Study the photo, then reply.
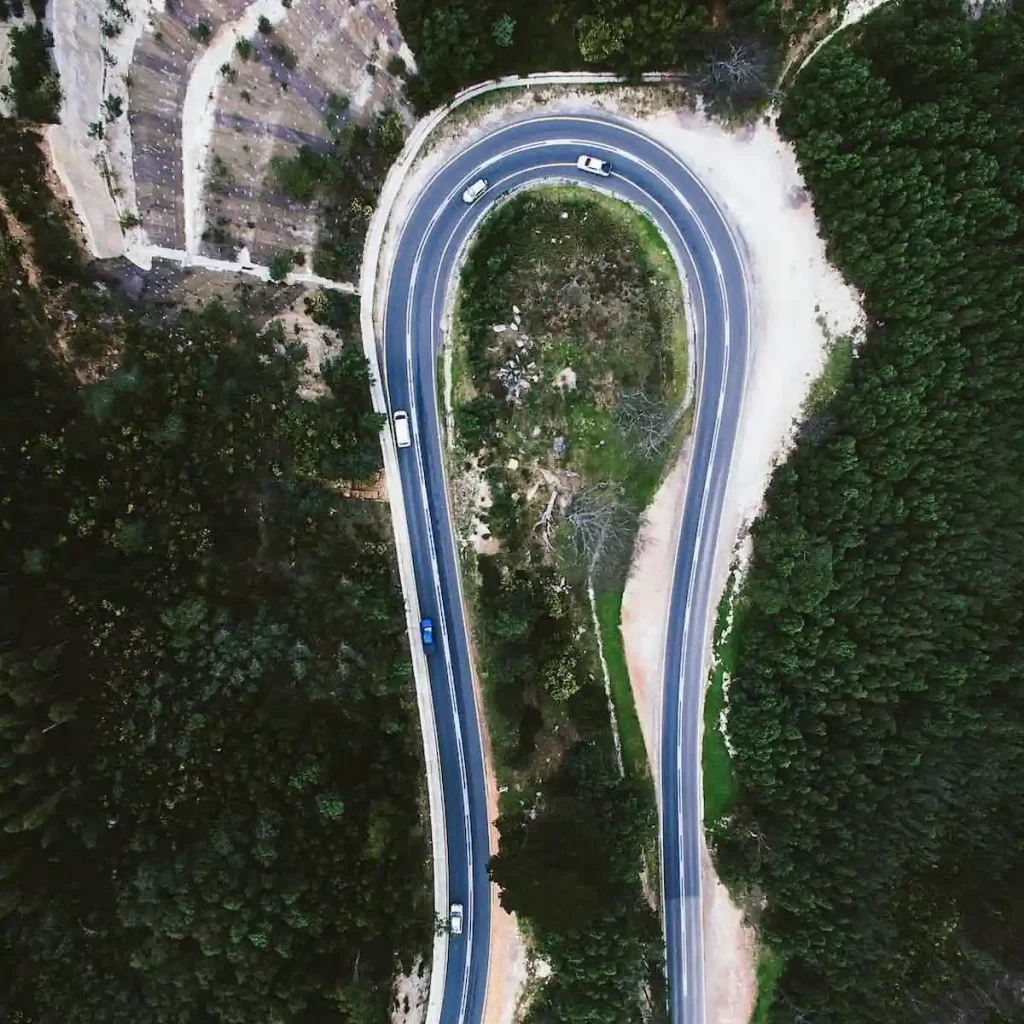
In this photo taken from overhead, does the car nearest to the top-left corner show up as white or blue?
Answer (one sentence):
The car nearest to the top-left corner is white.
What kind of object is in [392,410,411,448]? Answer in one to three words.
vehicle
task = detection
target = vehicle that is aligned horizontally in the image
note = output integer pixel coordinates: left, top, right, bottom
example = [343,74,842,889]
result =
[575,154,613,175]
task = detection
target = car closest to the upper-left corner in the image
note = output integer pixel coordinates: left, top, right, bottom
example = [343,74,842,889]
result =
[462,177,489,203]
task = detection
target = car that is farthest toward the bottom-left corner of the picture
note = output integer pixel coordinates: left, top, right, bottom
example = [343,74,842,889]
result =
[449,902,464,935]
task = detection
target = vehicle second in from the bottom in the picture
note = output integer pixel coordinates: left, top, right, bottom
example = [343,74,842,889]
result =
[420,619,436,652]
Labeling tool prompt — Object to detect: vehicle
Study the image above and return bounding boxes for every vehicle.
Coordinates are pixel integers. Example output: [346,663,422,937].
[462,177,489,203]
[575,154,613,175]
[420,619,436,652]
[449,902,464,935]
[392,410,411,448]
